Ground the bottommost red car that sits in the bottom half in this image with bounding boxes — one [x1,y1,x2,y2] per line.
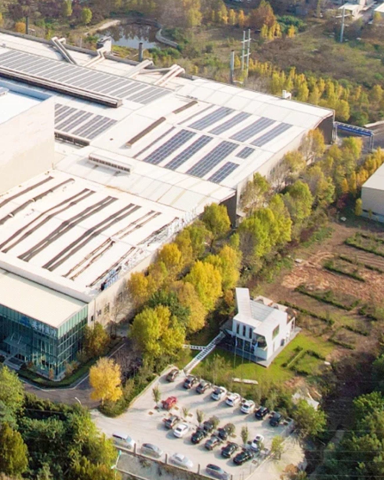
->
[158,395,177,410]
